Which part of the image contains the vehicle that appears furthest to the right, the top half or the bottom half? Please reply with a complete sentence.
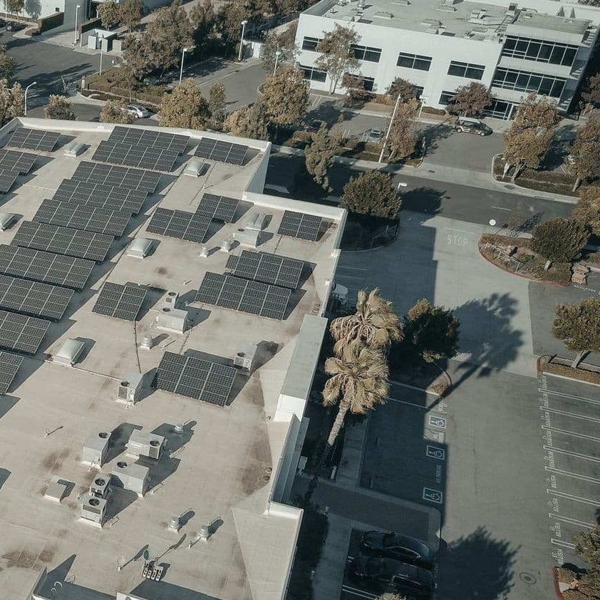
The vehicle that appears furthest to the right is in the top half of the image.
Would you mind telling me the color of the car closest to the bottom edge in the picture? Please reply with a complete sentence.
The car closest to the bottom edge looks black in the image.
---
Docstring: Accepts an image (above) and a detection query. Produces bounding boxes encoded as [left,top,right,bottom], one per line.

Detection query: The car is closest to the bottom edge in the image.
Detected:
[357,548,439,596]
